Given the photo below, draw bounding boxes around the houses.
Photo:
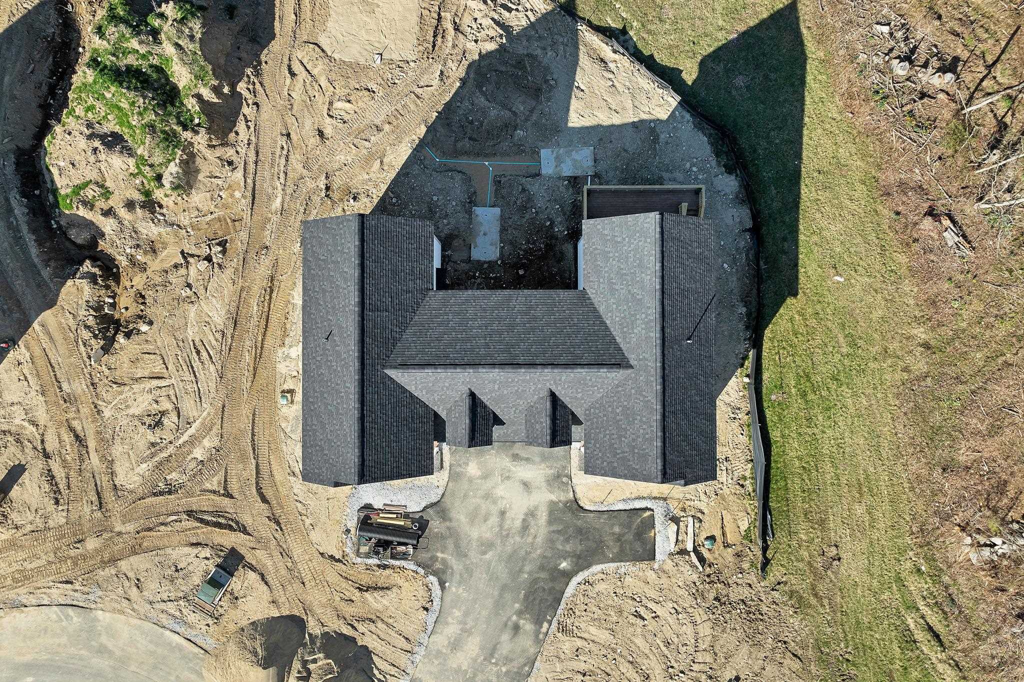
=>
[302,211,715,487]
